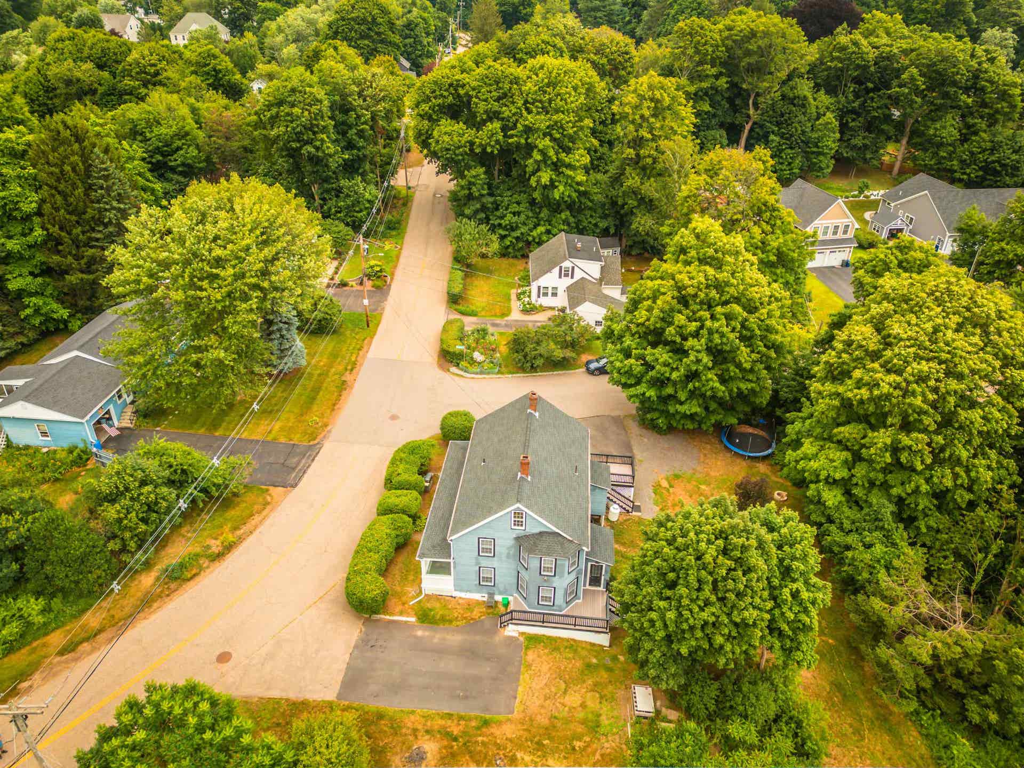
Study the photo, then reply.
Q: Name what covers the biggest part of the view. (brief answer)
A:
trees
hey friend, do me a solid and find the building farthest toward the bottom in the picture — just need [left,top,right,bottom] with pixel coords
[408,389,645,643]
